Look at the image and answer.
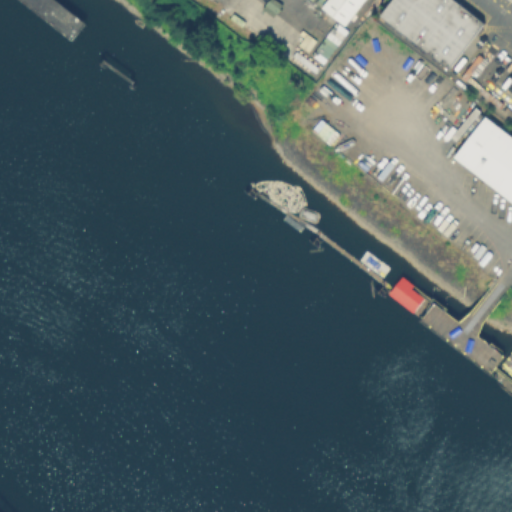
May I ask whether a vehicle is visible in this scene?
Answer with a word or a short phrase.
Yes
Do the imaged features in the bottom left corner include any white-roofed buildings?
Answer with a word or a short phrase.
No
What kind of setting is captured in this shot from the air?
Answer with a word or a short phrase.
port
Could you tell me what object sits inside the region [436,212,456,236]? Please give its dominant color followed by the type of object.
white vehicle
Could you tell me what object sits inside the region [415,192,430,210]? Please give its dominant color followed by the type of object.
white vehicle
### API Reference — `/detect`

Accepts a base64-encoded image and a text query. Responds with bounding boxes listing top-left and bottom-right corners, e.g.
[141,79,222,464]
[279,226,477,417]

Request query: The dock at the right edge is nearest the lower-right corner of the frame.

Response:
[421,280,509,374]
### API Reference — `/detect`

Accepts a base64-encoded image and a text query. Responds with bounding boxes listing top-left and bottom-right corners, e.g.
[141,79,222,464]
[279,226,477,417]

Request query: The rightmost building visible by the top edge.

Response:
[380,0,484,68]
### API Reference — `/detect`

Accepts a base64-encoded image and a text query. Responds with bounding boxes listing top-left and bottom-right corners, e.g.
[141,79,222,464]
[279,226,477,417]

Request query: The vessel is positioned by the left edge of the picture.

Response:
[14,0,84,42]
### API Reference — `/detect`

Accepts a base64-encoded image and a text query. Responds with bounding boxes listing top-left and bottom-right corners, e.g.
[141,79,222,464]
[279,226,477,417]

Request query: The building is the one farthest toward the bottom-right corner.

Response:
[391,280,428,314]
